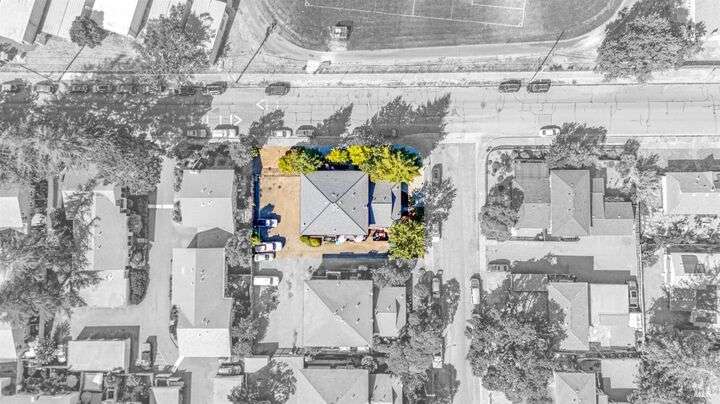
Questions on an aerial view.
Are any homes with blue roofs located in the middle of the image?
No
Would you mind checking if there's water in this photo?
No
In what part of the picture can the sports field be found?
top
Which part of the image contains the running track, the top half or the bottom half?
top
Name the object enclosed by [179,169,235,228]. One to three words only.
house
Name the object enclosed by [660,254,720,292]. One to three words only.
house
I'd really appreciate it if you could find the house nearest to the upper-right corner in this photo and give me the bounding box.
[657,171,720,216]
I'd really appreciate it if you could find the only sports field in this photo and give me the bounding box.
[232,0,634,64]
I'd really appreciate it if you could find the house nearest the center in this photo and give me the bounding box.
[299,169,401,237]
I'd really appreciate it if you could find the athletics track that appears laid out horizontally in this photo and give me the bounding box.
[232,0,634,64]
